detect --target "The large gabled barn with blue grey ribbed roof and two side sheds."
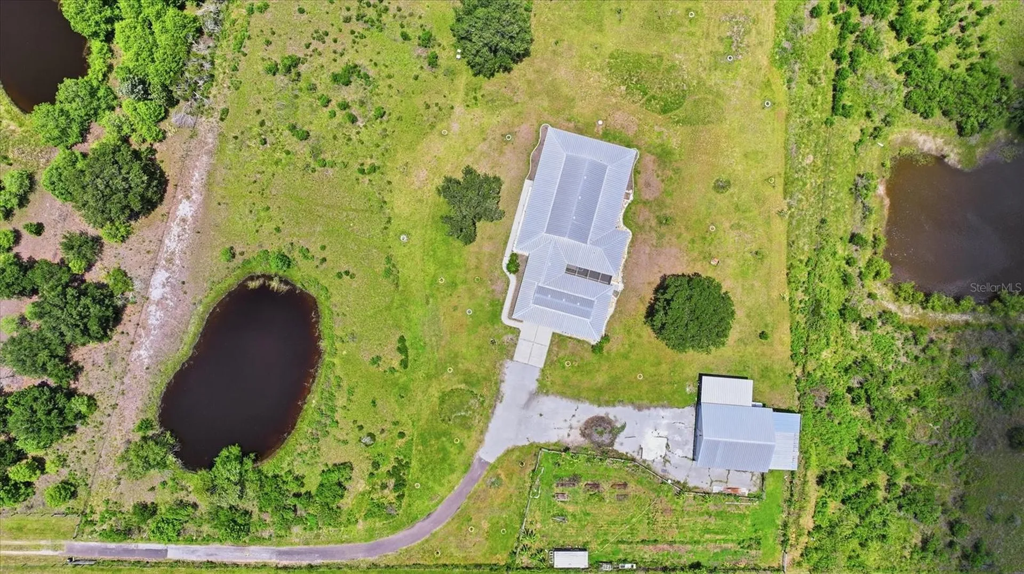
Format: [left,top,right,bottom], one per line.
[693,375,801,473]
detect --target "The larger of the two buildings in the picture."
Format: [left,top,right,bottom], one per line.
[512,126,638,341]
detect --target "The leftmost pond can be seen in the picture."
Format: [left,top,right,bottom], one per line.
[0,0,91,113]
